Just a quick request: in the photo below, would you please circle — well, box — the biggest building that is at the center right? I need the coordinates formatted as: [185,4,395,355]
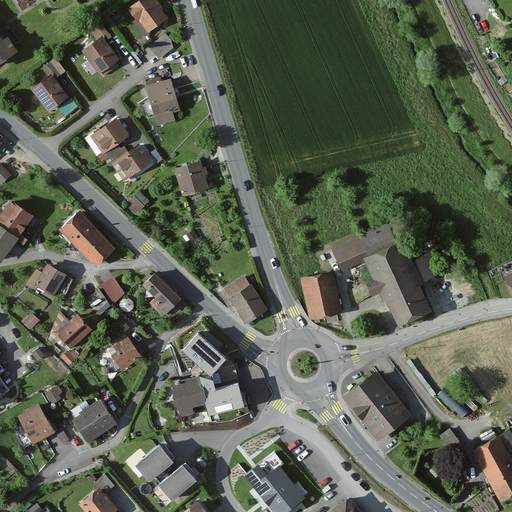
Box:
[365,246,439,330]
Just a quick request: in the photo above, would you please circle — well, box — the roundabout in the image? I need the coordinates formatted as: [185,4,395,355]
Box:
[266,326,342,402]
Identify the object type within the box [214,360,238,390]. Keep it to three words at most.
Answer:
building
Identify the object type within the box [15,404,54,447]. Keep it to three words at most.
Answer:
house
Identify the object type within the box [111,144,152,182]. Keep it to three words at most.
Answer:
house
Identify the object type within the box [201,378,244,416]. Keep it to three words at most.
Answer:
building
